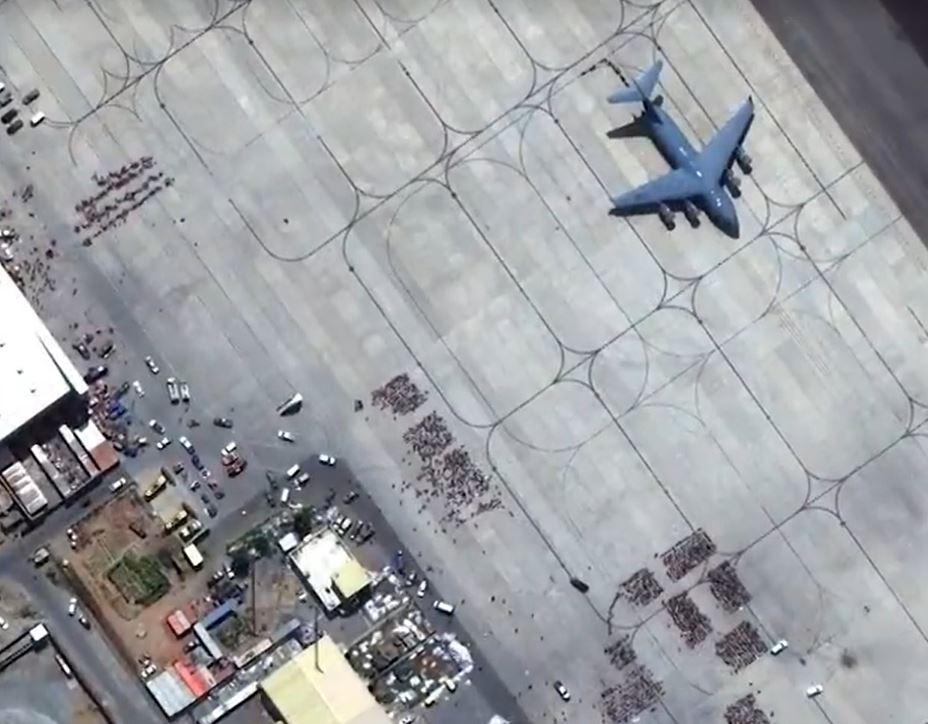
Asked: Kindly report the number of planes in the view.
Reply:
1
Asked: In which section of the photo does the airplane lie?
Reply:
top right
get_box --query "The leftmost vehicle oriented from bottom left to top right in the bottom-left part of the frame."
[32,549,49,563]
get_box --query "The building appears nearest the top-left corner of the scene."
[0,253,86,439]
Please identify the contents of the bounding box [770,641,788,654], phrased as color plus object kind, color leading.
white vehicle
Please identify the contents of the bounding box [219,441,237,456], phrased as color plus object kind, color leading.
white vehicle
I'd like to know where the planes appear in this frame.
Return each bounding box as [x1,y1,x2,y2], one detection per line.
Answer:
[607,62,755,234]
